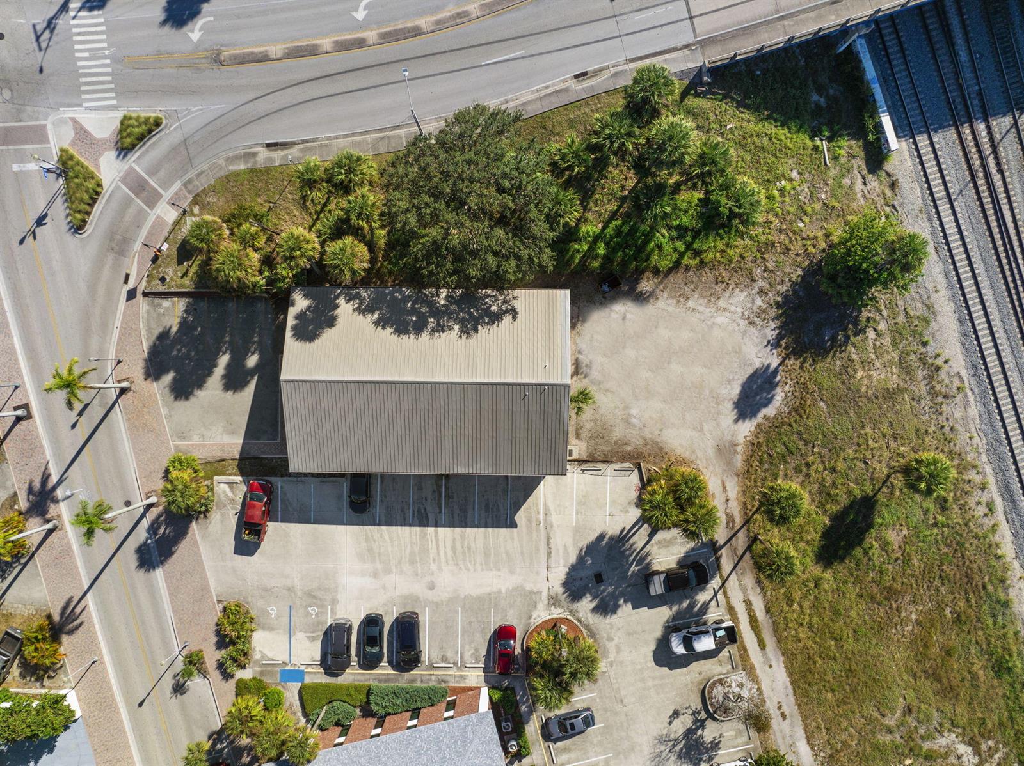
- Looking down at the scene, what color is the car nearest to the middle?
black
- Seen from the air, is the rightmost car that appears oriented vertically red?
Yes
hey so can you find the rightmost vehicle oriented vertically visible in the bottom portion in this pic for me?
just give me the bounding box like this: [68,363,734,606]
[493,623,517,675]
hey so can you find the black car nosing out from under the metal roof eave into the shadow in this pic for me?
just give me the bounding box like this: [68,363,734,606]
[347,476,372,514]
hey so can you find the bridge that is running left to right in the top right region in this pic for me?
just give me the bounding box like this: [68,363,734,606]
[686,0,948,82]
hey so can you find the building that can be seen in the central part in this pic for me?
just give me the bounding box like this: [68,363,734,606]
[276,286,572,476]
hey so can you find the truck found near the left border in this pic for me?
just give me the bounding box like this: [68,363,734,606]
[0,624,29,689]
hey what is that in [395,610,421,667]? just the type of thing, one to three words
car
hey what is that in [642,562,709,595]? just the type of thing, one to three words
truck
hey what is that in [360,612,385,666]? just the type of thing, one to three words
car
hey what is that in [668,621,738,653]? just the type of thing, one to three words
truck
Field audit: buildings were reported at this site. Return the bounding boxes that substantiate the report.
[205,686,511,766]
[276,286,572,476]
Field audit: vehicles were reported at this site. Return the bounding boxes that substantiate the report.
[0,624,29,689]
[642,562,709,595]
[240,479,273,544]
[493,623,517,675]
[668,621,738,653]
[327,617,353,670]
[395,610,421,667]
[347,476,372,514]
[543,708,596,740]
[360,612,385,666]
